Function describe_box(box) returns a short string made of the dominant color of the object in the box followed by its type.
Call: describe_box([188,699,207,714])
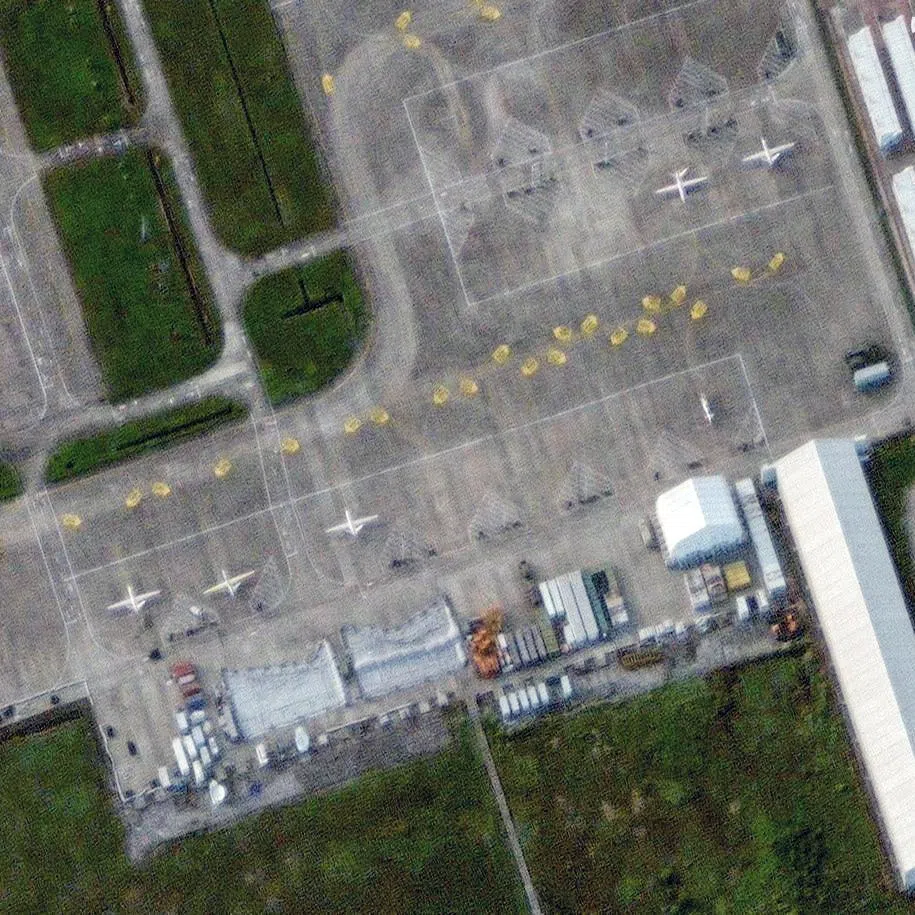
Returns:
blue vehicle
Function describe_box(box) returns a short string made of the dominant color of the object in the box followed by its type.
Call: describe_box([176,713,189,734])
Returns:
white vehicle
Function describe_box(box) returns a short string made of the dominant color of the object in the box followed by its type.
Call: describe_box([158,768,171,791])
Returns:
white vehicle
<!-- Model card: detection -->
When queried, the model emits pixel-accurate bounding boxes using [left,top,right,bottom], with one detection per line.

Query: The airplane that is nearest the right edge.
[743,138,793,168]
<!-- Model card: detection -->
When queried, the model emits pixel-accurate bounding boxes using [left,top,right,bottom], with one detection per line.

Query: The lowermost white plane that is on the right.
[701,395,716,424]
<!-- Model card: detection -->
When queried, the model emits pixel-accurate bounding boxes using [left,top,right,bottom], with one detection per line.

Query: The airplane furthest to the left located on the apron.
[109,587,159,614]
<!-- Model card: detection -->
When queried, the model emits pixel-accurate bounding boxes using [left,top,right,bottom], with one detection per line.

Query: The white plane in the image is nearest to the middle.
[326,511,377,538]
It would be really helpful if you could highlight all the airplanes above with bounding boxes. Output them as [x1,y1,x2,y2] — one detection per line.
[655,167,706,201]
[109,587,159,614]
[204,571,253,598]
[701,395,716,424]
[743,138,793,168]
[326,511,377,538]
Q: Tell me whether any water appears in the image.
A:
No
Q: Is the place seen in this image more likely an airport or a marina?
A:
airport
